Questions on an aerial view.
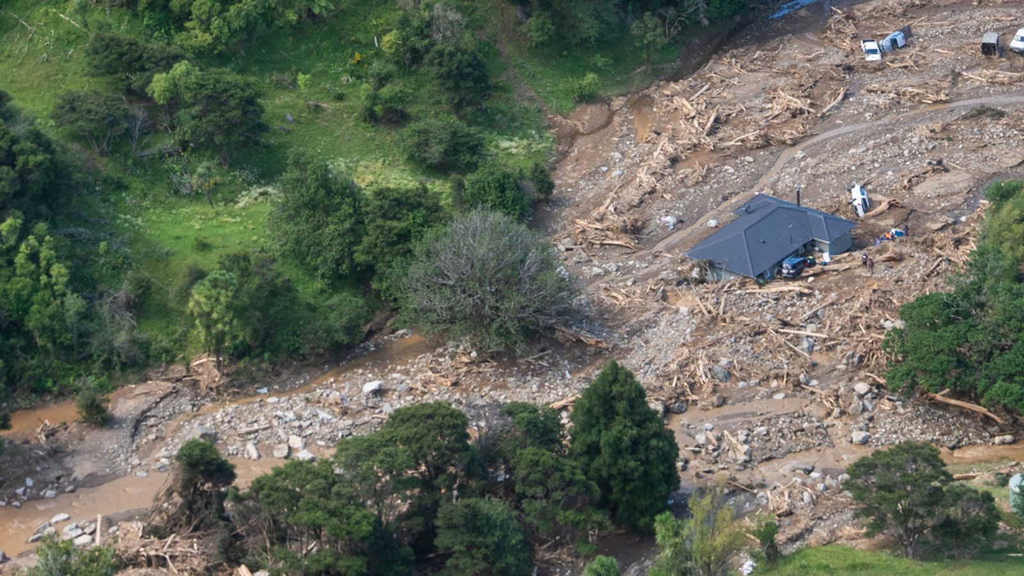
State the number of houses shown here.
1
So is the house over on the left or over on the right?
right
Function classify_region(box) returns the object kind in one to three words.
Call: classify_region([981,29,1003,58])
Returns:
truck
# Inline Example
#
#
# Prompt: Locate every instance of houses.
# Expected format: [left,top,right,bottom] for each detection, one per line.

[685,188,855,286]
